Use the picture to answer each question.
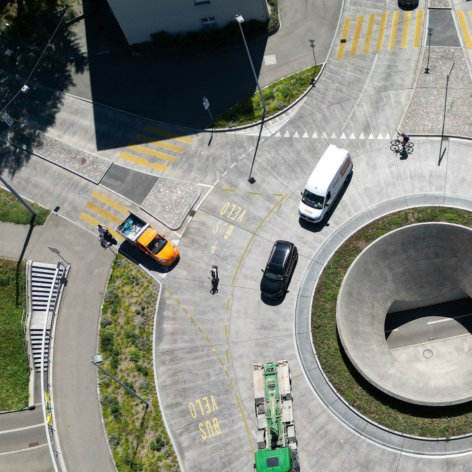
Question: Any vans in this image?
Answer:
Yes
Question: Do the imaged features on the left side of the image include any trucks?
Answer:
Yes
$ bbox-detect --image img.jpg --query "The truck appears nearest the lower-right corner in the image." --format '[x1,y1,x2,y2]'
[255,358,296,472]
